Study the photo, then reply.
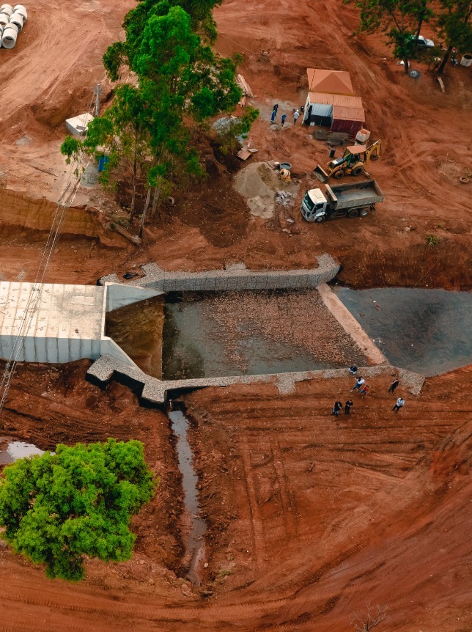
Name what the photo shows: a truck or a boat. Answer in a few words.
truck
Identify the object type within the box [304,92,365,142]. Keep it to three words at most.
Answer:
shed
